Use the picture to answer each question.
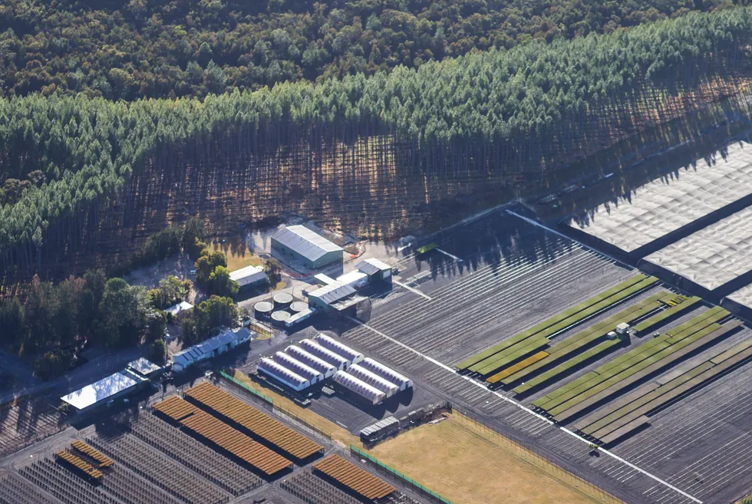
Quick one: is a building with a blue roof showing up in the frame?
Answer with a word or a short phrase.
Yes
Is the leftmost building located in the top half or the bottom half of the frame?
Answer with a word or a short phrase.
bottom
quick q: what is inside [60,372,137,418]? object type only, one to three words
building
